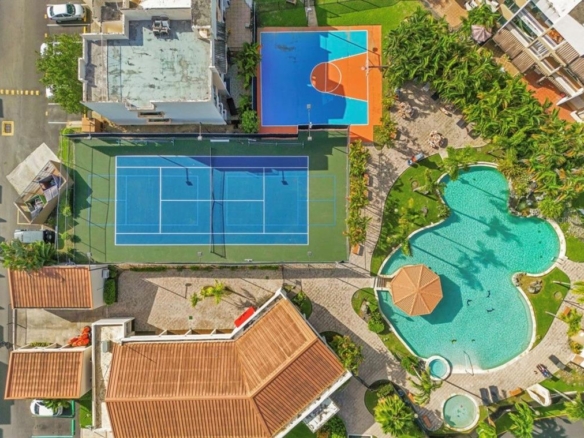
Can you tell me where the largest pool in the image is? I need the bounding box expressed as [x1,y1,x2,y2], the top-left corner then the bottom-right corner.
[373,161,572,375]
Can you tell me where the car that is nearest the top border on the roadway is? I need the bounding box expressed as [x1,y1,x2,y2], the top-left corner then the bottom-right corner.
[48,2,87,23]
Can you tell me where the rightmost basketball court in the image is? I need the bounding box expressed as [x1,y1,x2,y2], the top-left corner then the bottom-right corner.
[258,26,381,141]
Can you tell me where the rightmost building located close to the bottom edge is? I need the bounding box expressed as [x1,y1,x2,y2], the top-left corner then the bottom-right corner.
[90,291,355,438]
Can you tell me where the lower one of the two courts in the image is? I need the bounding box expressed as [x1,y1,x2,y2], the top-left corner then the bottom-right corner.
[73,138,346,263]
